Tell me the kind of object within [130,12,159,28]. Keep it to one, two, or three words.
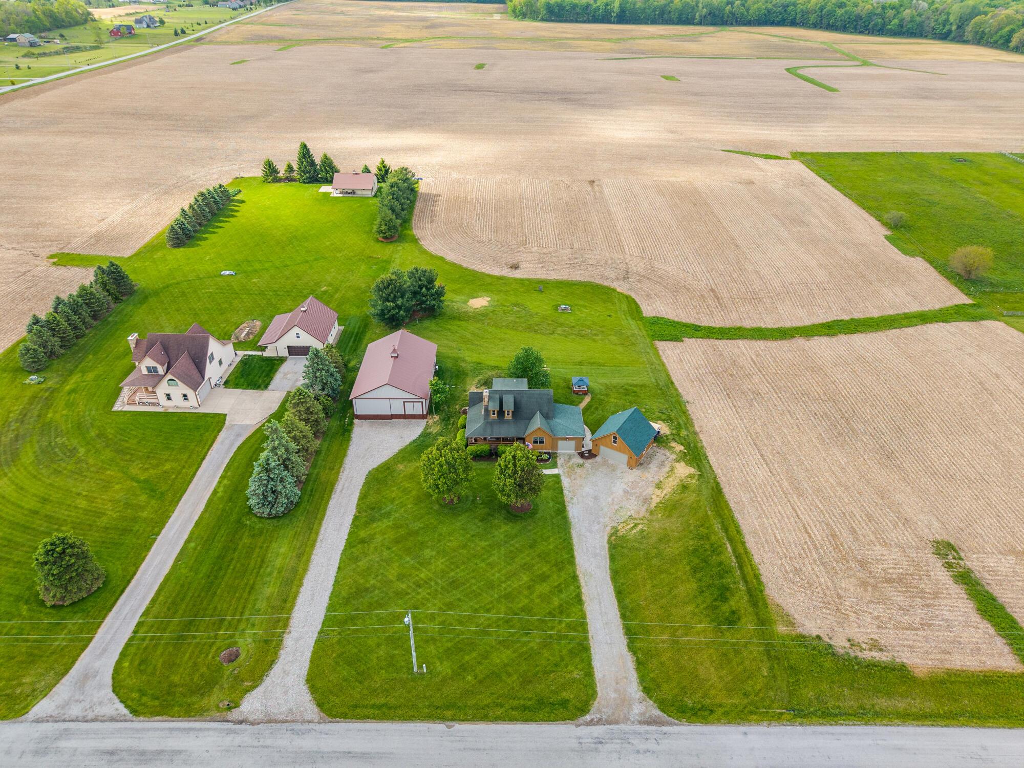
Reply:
house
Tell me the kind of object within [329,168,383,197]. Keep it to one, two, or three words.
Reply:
building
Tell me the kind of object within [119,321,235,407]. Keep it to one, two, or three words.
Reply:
house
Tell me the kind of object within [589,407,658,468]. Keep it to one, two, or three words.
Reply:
building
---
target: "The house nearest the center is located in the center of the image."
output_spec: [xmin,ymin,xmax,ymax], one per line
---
[465,378,587,453]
